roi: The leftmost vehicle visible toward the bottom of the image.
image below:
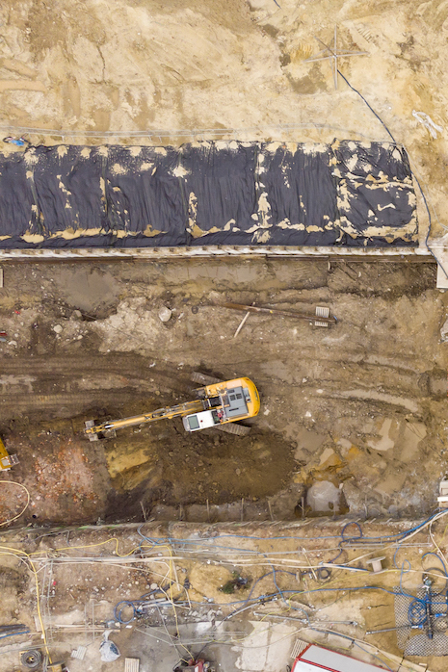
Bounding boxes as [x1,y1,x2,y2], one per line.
[0,435,27,474]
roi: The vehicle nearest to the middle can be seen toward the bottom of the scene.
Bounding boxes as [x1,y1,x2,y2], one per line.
[80,374,258,443]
